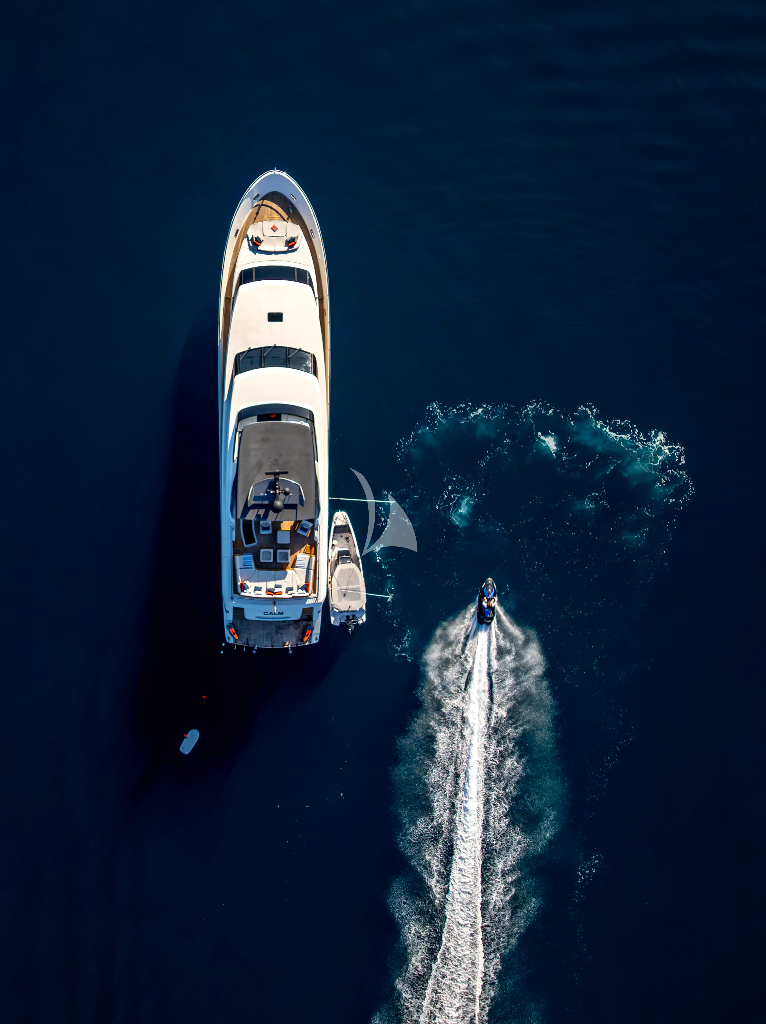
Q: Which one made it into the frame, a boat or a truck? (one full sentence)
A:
I can see a boat in this picture.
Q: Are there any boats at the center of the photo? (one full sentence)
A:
Yes, a boat can be seen at the center of the photo.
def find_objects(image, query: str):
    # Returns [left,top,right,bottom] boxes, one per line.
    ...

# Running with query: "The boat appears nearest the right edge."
[477,577,496,625]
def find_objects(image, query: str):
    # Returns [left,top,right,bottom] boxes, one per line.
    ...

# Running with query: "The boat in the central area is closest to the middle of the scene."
[330,511,366,636]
